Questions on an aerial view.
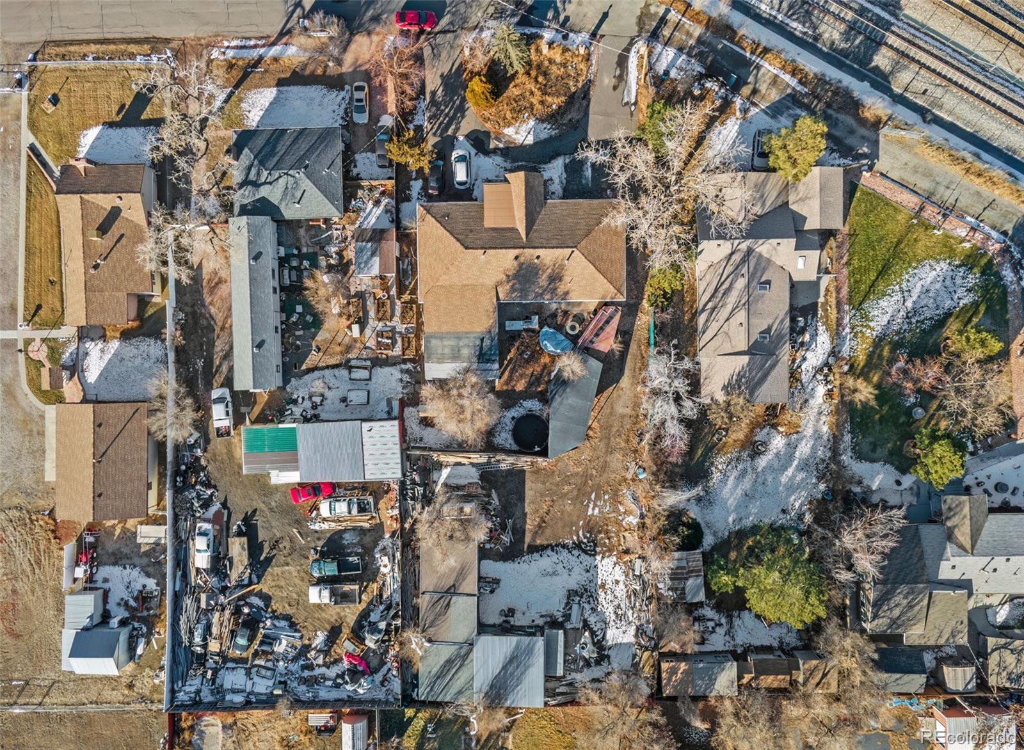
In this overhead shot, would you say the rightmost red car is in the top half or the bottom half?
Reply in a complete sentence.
You can find the rightmost red car in the top half.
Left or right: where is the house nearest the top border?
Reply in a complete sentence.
You can find the house nearest the top border on the left side of the picture.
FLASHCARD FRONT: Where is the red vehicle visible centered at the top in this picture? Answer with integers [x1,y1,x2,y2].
[394,6,437,28]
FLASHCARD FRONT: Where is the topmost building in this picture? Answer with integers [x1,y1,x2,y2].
[226,127,344,220]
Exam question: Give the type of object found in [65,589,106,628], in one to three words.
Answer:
shed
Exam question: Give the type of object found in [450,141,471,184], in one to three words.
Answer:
car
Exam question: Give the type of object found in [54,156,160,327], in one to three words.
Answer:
house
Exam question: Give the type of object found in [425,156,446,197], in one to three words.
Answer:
car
